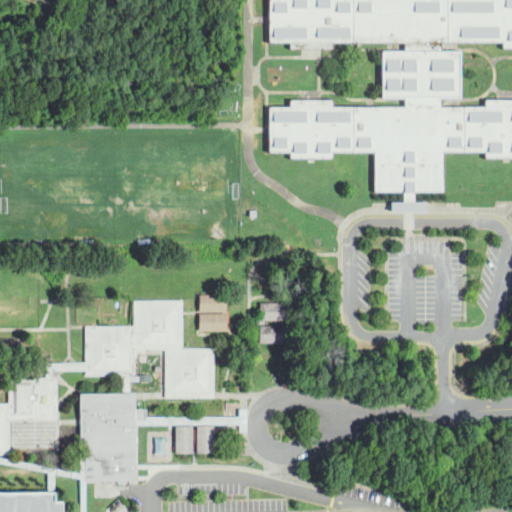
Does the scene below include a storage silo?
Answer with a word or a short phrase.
No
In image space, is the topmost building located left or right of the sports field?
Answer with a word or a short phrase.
to the right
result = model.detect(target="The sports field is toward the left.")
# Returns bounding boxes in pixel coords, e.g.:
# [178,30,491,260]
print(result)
[0,130,238,241]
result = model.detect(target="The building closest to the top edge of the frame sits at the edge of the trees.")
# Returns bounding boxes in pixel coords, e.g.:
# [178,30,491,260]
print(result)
[269,0,512,194]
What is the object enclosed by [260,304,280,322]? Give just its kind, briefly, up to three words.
house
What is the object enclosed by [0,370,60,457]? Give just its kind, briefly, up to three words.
building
